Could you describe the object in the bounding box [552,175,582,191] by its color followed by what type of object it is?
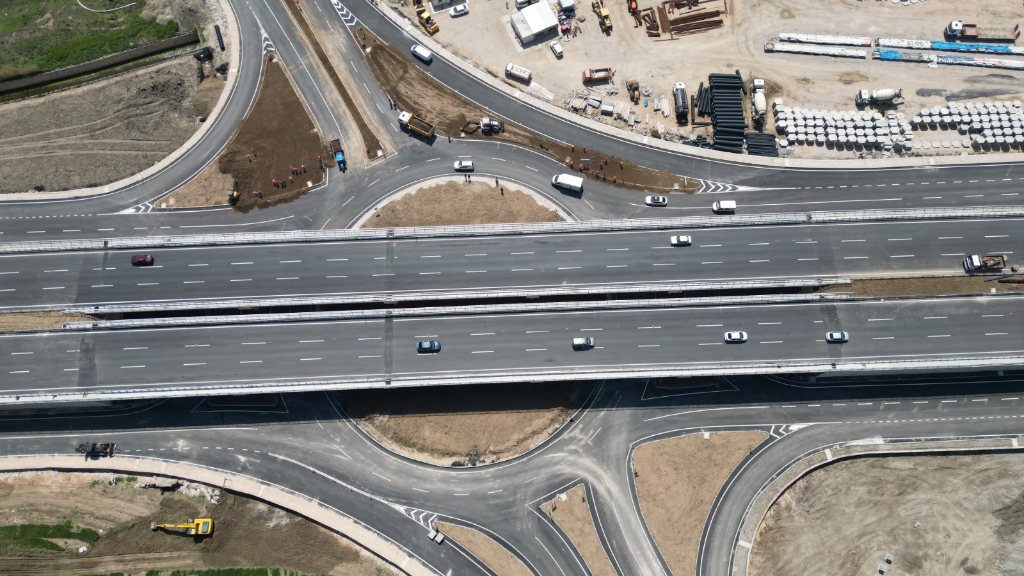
white vehicle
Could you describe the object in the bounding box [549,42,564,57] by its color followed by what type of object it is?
white car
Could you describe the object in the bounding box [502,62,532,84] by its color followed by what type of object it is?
white truck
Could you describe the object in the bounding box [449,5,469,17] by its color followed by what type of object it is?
white vehicle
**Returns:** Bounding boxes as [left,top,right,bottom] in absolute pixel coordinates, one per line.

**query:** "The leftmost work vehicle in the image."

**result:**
[76,443,123,457]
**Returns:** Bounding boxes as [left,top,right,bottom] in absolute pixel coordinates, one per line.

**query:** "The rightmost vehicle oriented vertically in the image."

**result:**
[751,84,767,123]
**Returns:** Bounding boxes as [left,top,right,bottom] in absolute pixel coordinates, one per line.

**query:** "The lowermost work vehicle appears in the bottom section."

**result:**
[155,517,214,537]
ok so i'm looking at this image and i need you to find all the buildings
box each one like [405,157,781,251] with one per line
[506,0,561,54]
[430,0,469,13]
